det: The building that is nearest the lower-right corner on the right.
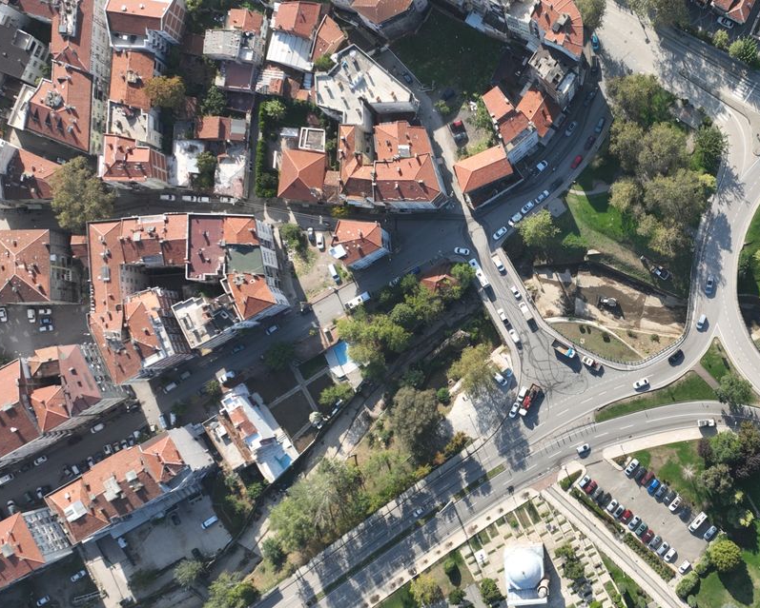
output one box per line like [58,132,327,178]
[503,537,552,607]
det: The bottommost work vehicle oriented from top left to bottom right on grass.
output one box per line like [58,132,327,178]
[642,258,669,282]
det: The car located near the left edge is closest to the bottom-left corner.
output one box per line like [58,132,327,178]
[35,594,54,607]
